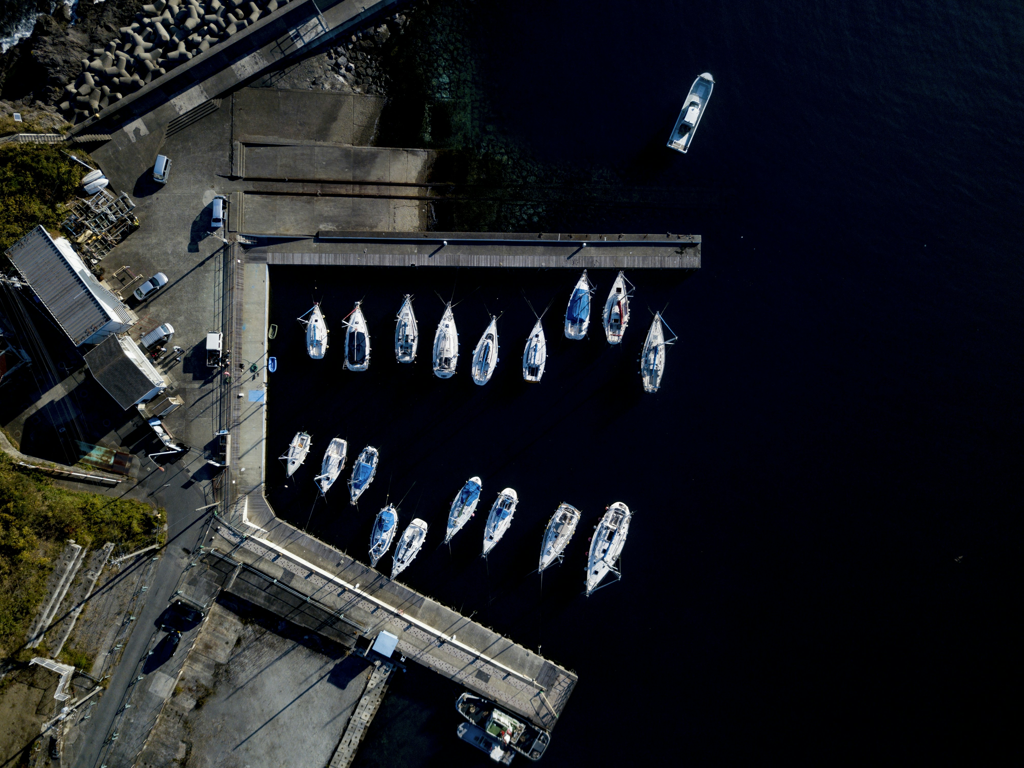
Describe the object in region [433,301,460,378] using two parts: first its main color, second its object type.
white boat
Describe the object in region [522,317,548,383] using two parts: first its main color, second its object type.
white boat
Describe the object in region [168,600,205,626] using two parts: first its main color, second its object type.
black car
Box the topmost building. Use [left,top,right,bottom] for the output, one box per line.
[0,224,152,349]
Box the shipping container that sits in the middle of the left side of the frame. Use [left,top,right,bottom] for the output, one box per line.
[74,440,135,475]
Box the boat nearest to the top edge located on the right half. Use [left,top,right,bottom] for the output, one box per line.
[667,72,716,155]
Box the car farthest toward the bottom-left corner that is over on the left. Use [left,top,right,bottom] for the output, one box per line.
[156,630,183,666]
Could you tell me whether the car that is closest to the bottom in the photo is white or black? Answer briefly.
black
